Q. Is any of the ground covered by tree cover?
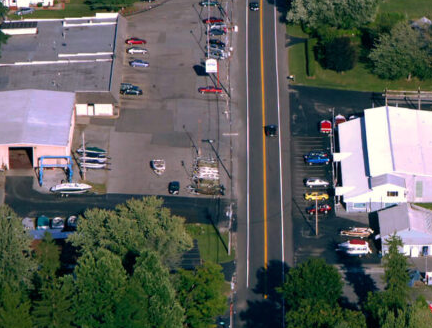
Yes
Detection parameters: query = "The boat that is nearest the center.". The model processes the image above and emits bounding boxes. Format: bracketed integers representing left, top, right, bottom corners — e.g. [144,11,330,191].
[154,157,167,173]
